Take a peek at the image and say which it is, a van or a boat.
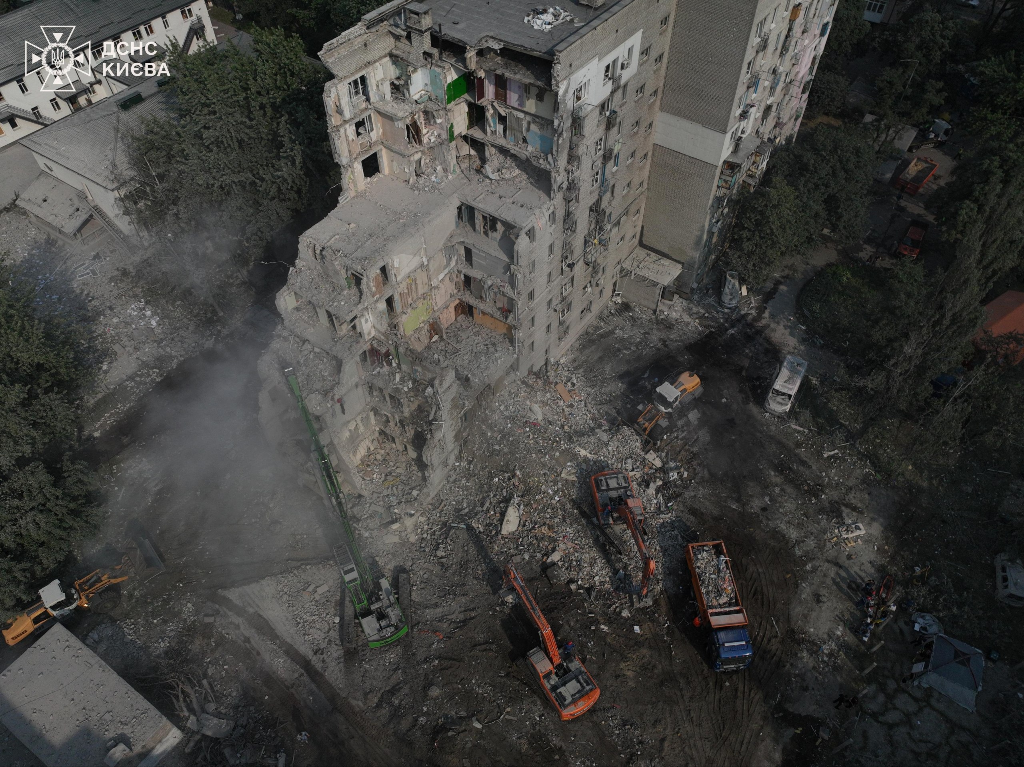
van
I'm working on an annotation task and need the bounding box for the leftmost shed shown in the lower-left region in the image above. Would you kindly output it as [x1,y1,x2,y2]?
[0,624,195,767]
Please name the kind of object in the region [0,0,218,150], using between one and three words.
building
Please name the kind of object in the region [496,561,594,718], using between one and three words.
work vehicle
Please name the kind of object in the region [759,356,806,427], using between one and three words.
van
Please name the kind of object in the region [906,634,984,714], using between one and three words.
tent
